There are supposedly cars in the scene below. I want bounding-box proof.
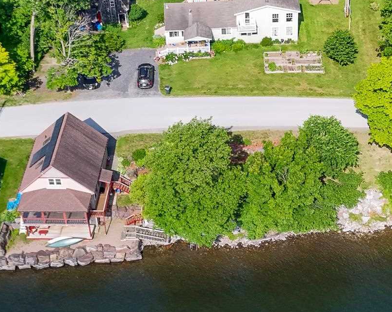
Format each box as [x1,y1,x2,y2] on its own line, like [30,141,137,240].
[82,61,99,85]
[136,60,155,86]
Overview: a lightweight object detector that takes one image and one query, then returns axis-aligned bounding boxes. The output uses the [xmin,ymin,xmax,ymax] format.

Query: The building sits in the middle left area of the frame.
[15,111,115,246]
